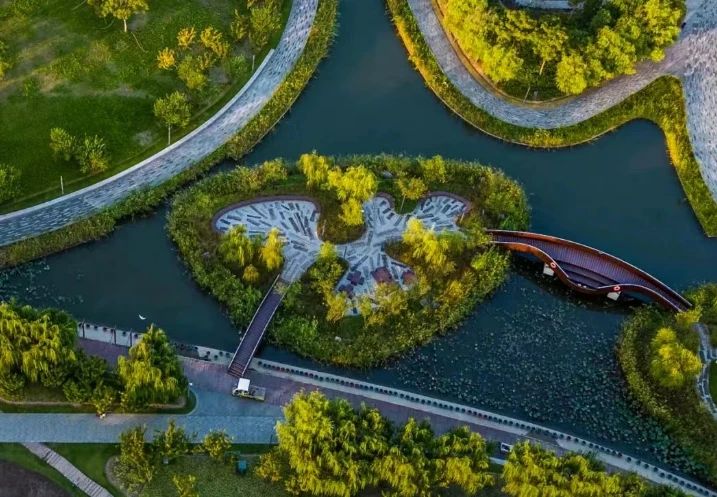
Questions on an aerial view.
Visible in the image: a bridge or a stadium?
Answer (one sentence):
Looking from above, you can make out a bridge.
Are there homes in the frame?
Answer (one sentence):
No, the frame has no home in it.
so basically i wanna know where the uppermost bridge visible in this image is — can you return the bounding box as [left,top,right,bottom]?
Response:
[484,230,685,318]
